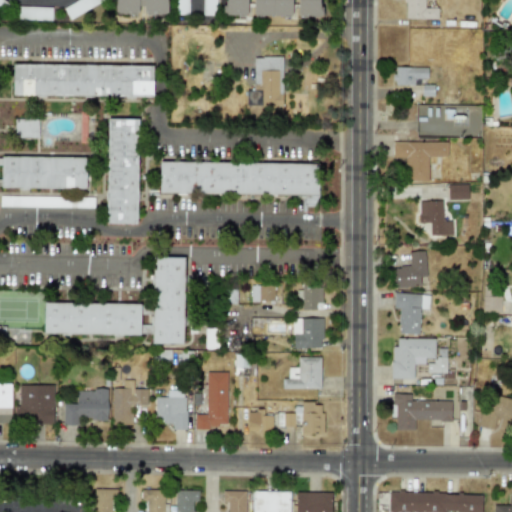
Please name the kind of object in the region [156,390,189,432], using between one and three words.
house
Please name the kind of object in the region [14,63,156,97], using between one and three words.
building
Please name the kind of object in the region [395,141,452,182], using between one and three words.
house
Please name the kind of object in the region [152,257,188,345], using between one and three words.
building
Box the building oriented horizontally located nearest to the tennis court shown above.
[45,302,143,336]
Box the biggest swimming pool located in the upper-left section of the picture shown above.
[46,118,78,136]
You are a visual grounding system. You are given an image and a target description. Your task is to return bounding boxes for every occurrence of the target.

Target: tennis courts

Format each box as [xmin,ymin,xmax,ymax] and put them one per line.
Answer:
[0,291,45,328]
